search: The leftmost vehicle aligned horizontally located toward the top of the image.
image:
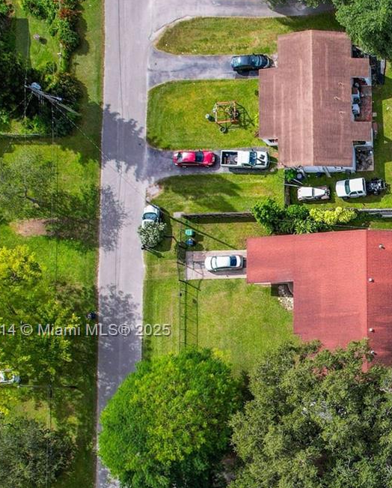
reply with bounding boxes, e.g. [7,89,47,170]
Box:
[172,149,216,167]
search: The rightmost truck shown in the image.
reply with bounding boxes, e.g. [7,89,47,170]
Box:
[335,178,388,200]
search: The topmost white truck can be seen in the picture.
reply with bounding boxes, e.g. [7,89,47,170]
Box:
[220,147,270,170]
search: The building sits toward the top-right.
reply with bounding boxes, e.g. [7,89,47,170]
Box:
[259,30,373,176]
